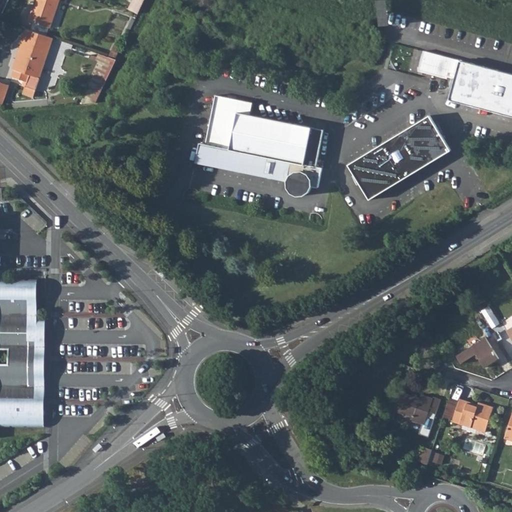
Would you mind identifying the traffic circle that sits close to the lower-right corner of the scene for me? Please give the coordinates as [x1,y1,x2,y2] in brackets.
[408,482,480,512]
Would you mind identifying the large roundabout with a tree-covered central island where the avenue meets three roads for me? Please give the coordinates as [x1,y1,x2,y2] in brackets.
[177,331,281,435]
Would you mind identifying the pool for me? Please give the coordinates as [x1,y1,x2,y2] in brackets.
[462,440,487,456]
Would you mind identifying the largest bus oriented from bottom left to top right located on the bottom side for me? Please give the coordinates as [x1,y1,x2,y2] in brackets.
[134,427,161,448]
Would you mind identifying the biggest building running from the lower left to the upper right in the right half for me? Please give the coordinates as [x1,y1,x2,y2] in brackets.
[347,116,450,200]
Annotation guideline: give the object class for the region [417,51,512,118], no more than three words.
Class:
building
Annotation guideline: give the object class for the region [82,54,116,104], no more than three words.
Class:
shed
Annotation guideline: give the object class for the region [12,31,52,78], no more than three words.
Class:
house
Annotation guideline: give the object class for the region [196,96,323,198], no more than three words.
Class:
building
